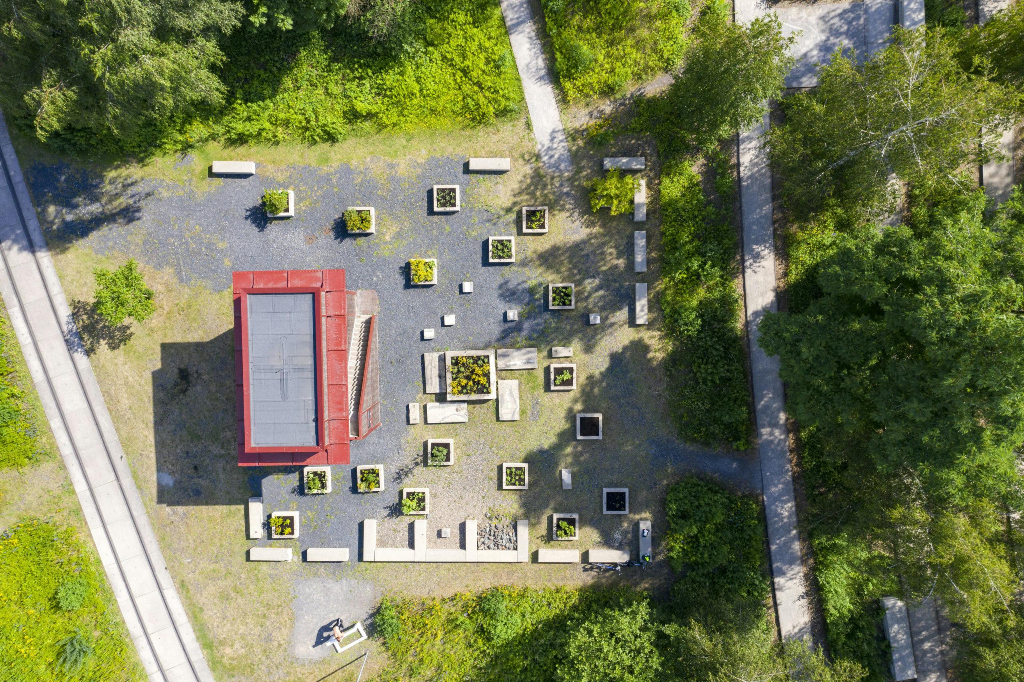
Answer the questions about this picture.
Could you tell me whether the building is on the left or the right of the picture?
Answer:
left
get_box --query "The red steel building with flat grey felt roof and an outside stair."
[234,269,382,466]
